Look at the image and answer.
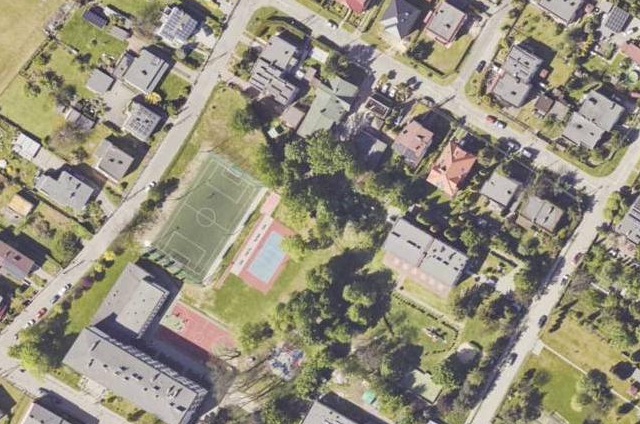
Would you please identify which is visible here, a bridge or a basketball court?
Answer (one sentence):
The one in the frame is a basketball court.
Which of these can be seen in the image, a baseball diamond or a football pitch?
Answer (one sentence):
The one in the frame is a football pitch.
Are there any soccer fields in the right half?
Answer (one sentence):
No, looking in the right half, there is no soccer field.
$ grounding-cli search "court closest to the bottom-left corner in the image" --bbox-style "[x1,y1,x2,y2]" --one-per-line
[155,302,235,367]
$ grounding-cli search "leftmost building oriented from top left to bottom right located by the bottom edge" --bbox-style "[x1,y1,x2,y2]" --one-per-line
[65,324,202,424]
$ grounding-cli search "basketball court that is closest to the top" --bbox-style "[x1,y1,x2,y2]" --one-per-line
[240,220,289,294]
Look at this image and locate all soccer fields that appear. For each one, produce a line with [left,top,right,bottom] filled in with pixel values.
[141,152,264,283]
